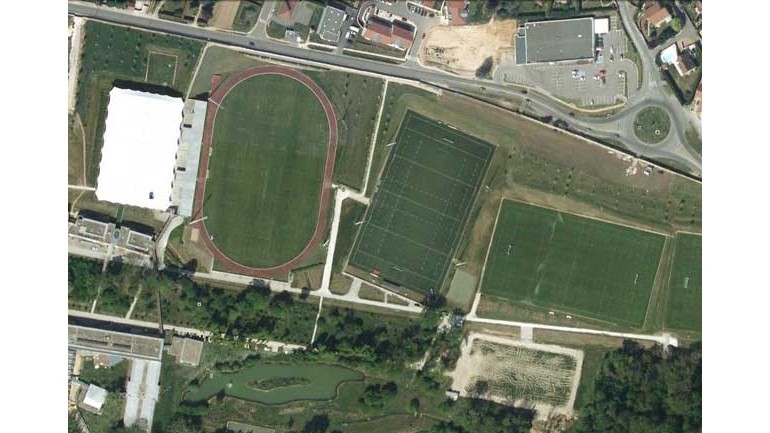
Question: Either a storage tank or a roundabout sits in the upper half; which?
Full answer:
There is a roundabout in the upper half.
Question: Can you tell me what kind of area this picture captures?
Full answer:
This image shows a sports ground.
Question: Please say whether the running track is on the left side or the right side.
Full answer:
The running track sits on the left side.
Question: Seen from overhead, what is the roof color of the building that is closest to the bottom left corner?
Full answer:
The color of the roof on the building that is closest to the bottom left corner is white.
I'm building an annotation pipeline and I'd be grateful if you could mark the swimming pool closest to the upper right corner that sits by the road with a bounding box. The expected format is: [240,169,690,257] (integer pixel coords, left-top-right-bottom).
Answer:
[661,44,678,63]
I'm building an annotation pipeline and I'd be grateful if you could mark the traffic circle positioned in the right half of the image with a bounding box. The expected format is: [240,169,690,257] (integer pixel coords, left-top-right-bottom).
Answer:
[623,95,682,155]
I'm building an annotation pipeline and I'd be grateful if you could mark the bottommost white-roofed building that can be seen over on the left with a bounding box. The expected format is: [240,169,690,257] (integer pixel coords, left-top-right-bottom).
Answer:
[78,383,107,416]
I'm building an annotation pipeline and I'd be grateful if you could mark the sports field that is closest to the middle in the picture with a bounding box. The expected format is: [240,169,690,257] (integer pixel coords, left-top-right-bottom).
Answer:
[346,108,497,301]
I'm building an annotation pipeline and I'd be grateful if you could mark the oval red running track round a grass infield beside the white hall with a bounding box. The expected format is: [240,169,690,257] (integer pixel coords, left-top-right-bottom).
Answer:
[183,65,337,277]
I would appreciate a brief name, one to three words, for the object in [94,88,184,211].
building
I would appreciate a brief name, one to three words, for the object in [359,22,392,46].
house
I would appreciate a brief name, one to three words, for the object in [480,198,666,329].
soccer field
